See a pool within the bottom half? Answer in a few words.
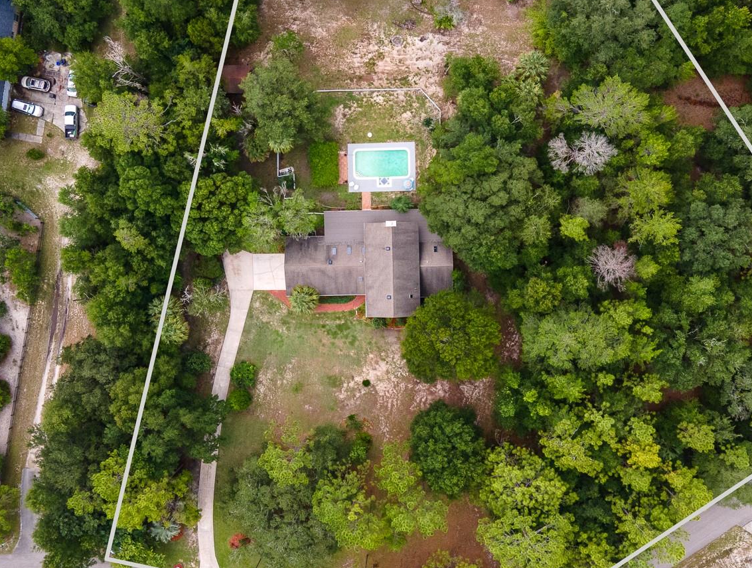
No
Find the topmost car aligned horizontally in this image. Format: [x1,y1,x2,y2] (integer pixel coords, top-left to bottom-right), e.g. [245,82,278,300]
[21,76,52,93]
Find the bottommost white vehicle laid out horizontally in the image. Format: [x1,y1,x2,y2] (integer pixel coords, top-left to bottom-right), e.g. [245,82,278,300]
[11,100,45,117]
